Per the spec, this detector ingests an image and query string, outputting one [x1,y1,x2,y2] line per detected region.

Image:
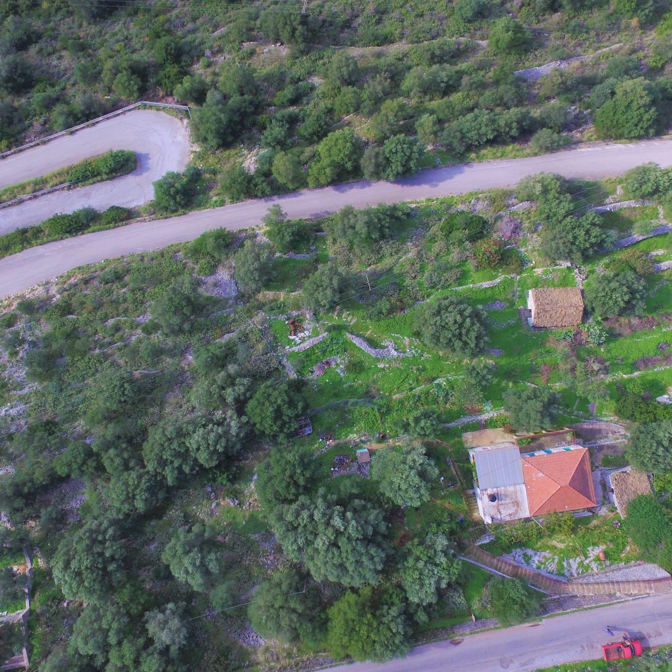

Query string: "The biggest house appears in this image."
[465,440,598,525]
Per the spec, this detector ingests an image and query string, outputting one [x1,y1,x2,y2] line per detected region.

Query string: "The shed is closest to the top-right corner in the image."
[527,287,585,326]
